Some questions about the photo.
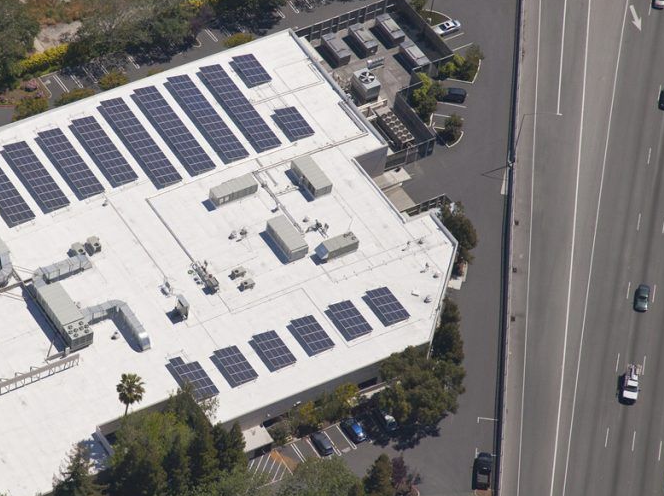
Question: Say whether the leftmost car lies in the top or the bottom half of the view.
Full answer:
The bottom half of the photo is where the leftmost car is.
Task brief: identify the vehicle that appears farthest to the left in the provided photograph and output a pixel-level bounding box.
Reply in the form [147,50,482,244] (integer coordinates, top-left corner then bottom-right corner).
[309,428,336,459]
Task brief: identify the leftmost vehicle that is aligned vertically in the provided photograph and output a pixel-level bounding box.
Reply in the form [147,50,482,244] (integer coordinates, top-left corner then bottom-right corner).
[473,455,492,489]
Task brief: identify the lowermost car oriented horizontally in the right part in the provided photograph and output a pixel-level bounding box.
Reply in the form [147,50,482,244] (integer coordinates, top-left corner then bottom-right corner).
[439,87,471,103]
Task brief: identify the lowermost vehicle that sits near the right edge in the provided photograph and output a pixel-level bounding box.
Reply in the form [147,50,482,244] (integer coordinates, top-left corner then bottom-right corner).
[621,363,640,404]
